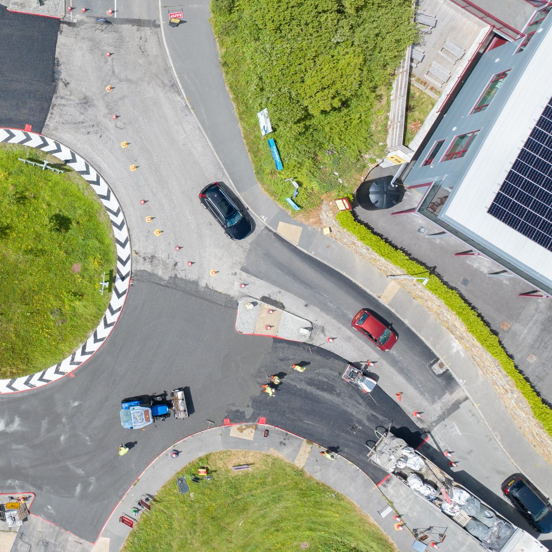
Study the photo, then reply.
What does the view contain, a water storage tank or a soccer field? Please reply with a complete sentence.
Of the two, only a water storage tank appears.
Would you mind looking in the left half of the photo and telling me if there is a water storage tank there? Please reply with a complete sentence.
No, there is no water storage tank in the left half of the photo.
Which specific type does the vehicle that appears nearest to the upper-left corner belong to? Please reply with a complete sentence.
The vehicle that appears nearest to the upper-left corner appears to be a car.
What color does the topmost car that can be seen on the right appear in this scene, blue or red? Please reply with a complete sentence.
In this view, the topmost car that can be seen on the right is red.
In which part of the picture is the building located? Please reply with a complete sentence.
The building appears toward the top right of the photo.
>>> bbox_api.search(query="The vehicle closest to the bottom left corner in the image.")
[120,396,168,430]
